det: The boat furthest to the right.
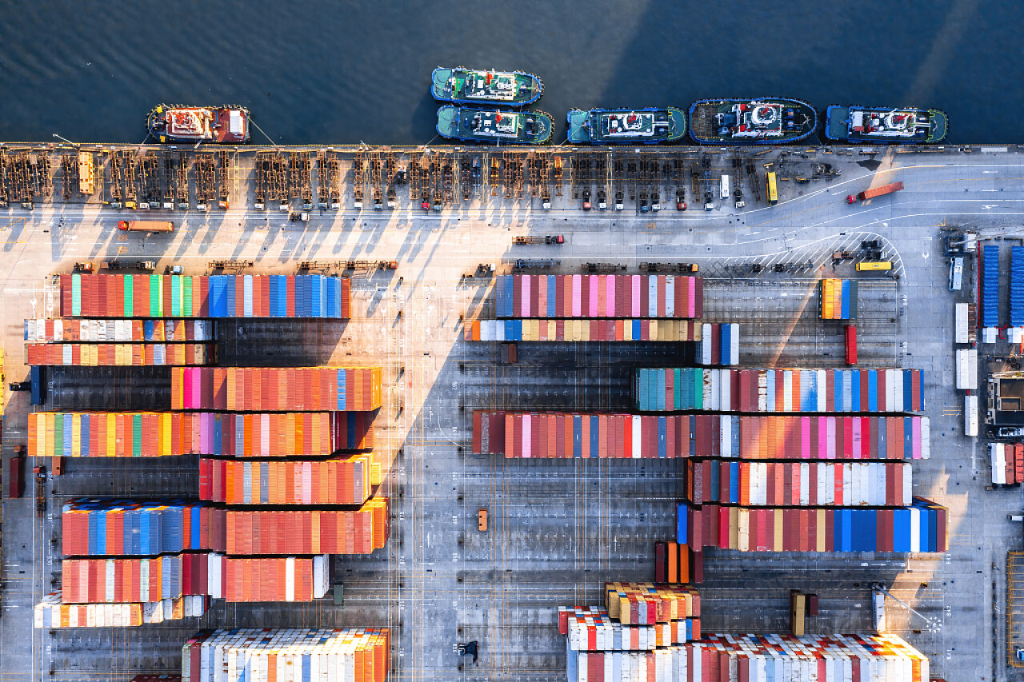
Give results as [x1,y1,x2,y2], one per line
[823,104,950,144]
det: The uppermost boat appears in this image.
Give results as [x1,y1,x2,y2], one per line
[431,65,546,109]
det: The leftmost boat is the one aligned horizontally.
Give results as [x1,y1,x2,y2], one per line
[145,104,253,146]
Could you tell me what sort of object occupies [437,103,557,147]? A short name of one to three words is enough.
boat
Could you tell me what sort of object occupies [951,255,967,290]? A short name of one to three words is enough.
vehicle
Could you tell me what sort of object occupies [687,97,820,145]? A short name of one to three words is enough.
boat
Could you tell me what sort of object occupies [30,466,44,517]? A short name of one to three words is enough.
vehicle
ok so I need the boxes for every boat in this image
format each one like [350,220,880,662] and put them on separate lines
[431,65,546,109]
[145,104,253,146]
[687,97,820,145]
[566,106,687,145]
[437,103,557,147]
[823,104,950,144]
